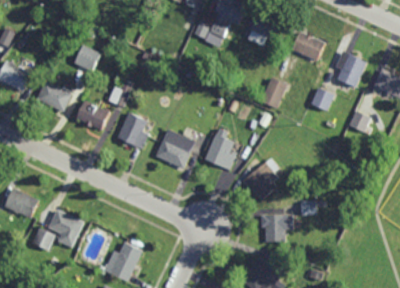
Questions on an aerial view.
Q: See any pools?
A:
Yes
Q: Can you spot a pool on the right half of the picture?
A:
No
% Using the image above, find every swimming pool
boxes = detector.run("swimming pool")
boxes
[82,227,110,265]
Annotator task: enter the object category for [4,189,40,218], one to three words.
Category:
house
